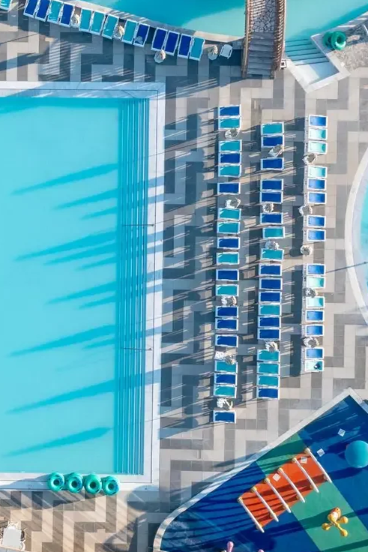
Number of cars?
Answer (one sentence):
The photo contains no cars.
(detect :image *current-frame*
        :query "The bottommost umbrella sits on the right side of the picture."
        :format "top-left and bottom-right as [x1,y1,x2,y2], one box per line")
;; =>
[218,398,234,414]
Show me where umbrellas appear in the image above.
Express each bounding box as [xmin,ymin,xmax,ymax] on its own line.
[304,336,321,349]
[265,238,282,252]
[304,286,322,300]
[299,202,319,216]
[225,125,241,139]
[222,295,238,308]
[223,352,238,367]
[225,195,243,209]
[268,142,287,157]
[218,398,234,414]
[301,149,321,164]
[264,340,281,354]
[69,8,83,27]
[154,46,170,63]
[261,199,279,214]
